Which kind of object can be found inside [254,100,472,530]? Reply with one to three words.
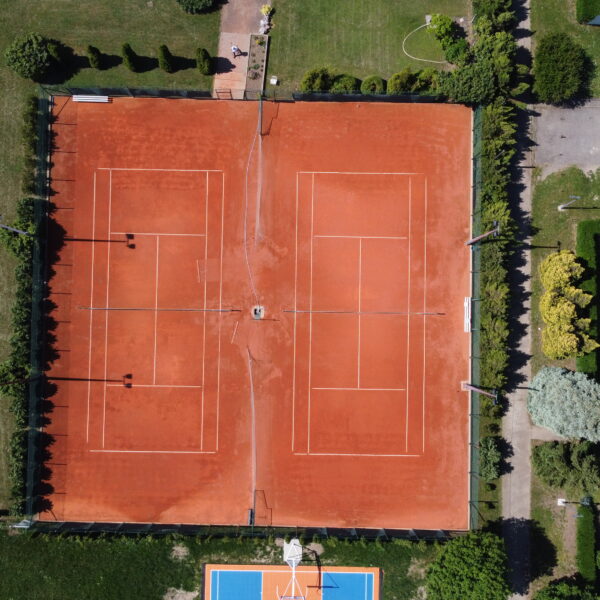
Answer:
tennis court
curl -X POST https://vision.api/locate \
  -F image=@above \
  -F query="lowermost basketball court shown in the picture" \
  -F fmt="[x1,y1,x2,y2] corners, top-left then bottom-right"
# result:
[202,565,383,600]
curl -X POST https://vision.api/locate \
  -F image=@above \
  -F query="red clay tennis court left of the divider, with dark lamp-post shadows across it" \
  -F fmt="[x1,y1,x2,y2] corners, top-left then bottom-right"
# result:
[38,97,261,526]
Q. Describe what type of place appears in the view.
sports ground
